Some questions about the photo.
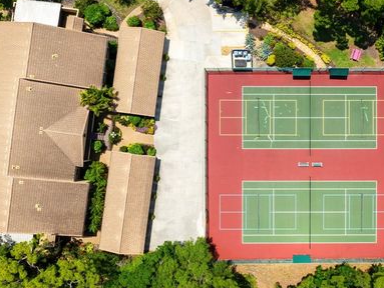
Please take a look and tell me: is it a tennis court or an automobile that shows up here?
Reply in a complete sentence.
I can see a tennis court in this picture.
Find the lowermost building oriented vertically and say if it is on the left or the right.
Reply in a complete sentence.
The lowermost building oriented vertically is on the left side of the image.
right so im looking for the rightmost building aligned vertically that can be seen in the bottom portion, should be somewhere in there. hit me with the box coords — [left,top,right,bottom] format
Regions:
[99,151,157,256]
